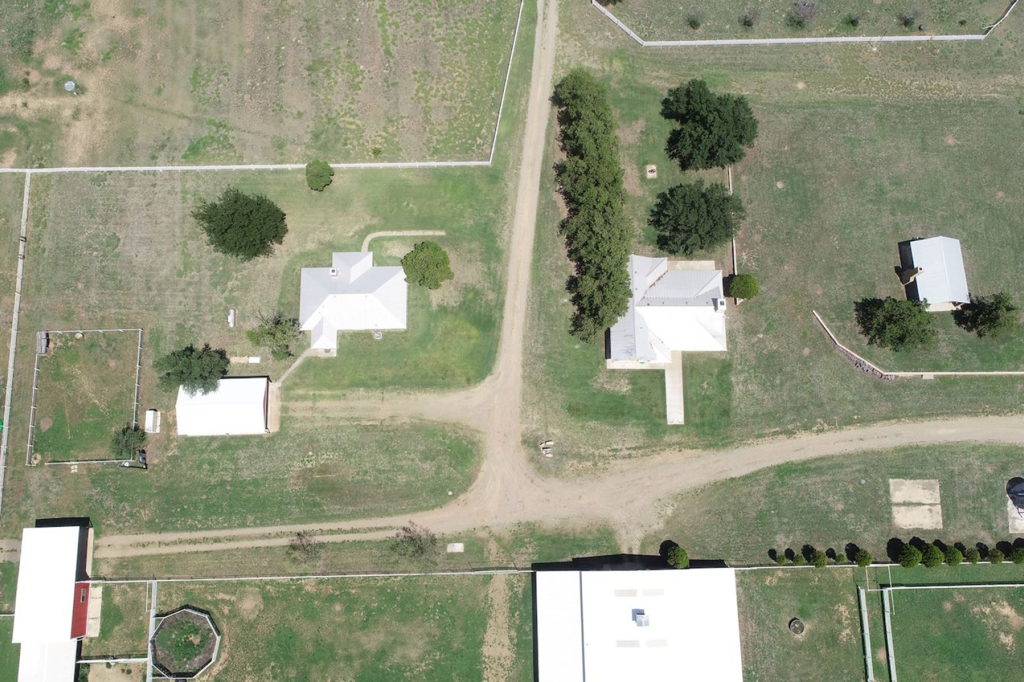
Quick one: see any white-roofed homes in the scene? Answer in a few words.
Yes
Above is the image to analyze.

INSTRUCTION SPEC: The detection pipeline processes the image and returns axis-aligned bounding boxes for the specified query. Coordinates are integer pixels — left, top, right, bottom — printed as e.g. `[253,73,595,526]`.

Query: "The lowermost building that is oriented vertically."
[12,526,93,682]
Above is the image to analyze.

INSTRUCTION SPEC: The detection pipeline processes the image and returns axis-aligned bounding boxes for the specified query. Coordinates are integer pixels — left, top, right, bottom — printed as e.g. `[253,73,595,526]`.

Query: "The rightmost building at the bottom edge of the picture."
[535,568,742,682]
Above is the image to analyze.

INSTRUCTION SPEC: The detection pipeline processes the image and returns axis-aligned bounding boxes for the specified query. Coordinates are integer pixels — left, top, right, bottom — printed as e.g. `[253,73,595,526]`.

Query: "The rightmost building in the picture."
[897,236,970,311]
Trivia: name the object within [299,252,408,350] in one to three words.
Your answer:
house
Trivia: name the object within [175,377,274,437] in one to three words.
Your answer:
building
